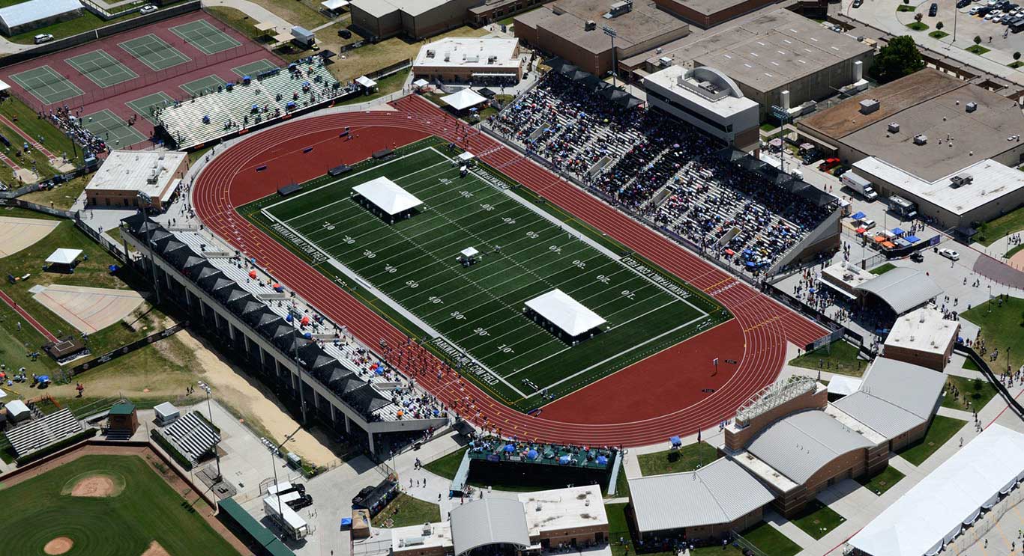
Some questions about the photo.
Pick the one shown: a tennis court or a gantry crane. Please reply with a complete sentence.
Visible in the photo is a tennis court.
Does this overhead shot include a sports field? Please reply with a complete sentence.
Yes, looking at the shot, I can spot a sports field.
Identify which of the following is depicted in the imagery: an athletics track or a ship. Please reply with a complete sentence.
Of the two, only an athletics track appears.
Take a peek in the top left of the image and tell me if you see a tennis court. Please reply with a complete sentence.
Yes, you'll find a tennis court in the top left of the image.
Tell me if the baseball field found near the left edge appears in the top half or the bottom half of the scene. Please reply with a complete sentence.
The baseball field found near the left edge sits in the bottom half of the picture.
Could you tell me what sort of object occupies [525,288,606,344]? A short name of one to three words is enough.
tent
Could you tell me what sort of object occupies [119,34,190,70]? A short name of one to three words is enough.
tennis court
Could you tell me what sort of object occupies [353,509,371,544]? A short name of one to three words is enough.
shed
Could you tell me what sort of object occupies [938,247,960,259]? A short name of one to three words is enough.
vehicle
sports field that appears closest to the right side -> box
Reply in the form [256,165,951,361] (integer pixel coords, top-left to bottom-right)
[237,135,735,413]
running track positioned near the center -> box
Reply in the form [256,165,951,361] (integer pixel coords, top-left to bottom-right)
[197,110,786,449]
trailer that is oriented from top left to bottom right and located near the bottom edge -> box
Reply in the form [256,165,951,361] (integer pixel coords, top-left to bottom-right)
[264,495,308,542]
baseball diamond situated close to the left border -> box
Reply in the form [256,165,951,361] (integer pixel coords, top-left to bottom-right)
[0,455,243,556]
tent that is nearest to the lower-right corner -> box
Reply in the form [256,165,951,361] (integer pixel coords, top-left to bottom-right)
[847,424,1024,556]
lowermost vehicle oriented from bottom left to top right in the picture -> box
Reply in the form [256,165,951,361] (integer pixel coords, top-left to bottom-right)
[350,481,376,502]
